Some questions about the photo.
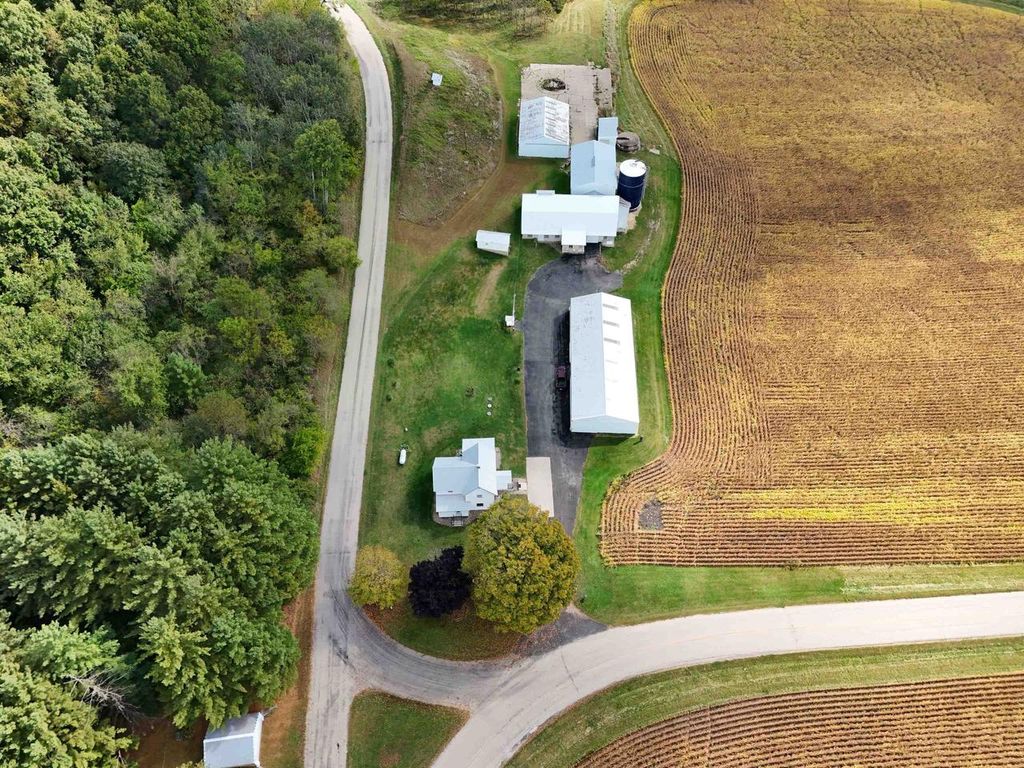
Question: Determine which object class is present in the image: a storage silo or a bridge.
storage silo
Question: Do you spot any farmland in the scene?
Yes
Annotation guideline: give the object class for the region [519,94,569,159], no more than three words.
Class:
barn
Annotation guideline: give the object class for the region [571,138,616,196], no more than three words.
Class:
barn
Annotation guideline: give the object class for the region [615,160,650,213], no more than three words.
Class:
silo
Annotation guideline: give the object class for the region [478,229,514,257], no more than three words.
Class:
shed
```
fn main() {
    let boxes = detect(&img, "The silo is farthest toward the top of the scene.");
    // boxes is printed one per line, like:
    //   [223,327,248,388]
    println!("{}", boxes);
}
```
[616,131,640,151]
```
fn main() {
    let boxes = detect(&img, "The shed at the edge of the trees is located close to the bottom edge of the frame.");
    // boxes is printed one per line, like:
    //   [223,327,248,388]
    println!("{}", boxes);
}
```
[204,713,261,768]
